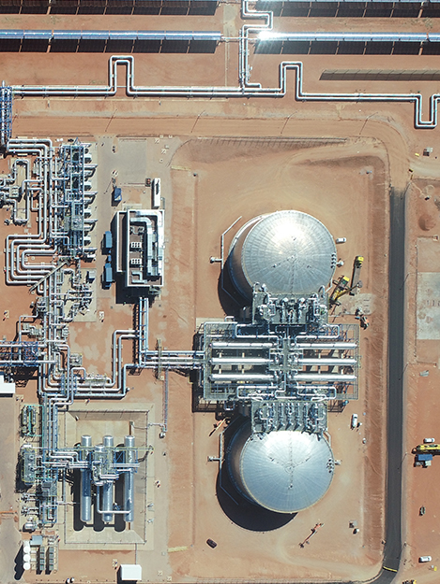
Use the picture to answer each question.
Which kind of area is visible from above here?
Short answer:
industrial area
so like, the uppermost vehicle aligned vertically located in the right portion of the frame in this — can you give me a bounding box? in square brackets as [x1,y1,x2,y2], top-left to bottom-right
[351,258,366,295]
